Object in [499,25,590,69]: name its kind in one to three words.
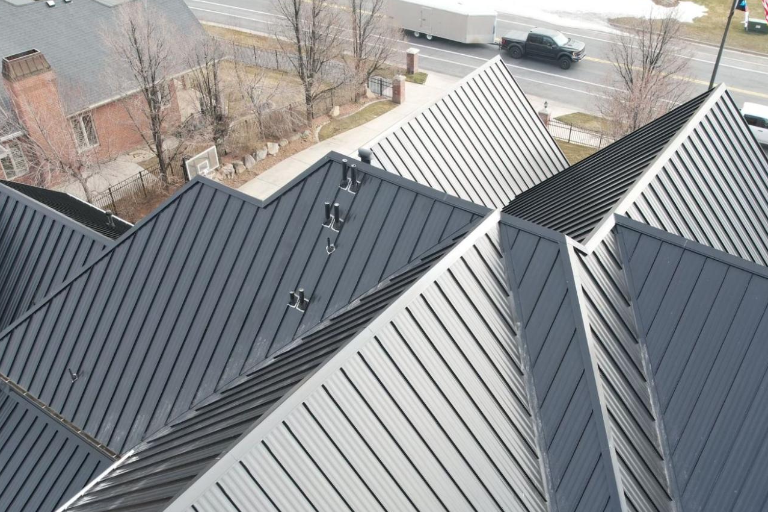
truck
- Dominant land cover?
buildings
